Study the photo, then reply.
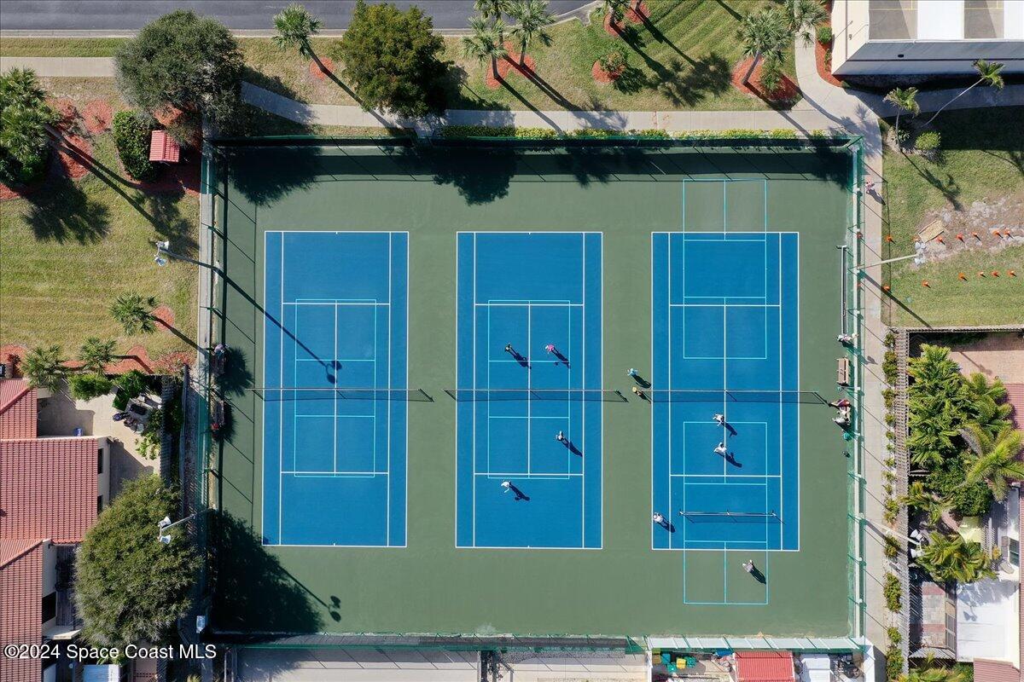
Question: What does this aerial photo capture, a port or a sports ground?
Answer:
sports ground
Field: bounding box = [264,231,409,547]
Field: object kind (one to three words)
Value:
tennis court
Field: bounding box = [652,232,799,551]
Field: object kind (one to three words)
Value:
tennis court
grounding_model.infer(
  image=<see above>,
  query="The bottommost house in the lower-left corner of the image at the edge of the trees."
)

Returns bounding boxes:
[0,544,79,682]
